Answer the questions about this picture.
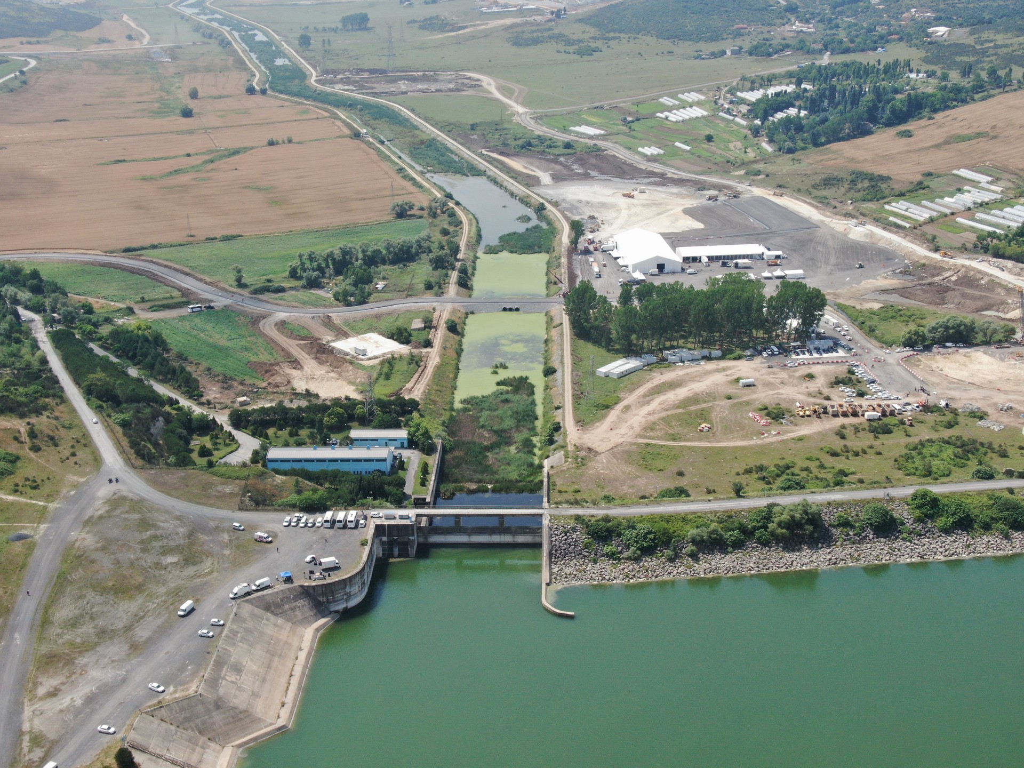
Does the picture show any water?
Yes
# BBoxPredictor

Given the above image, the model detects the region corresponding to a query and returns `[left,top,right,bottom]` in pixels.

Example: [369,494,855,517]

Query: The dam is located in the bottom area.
[423,520,542,543]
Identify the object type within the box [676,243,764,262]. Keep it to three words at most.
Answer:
tent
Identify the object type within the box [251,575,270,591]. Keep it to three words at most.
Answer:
vehicle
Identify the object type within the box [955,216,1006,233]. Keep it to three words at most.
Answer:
greenhouse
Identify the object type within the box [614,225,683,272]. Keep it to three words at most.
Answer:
tent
